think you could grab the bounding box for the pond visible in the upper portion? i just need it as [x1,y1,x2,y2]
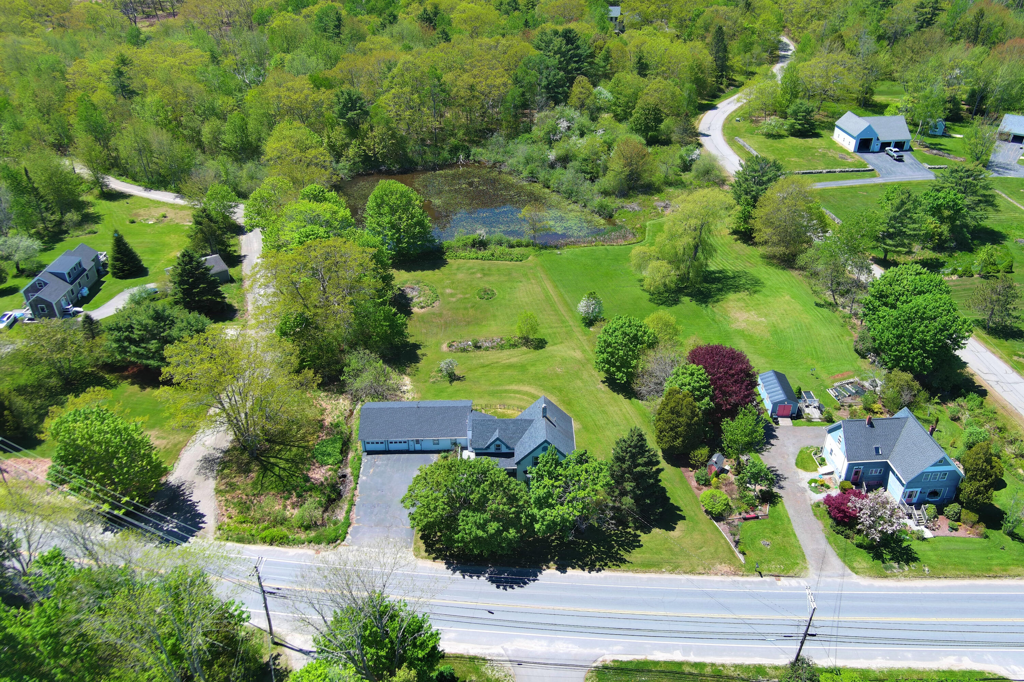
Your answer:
[328,164,609,258]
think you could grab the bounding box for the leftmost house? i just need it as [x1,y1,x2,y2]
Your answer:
[18,240,112,318]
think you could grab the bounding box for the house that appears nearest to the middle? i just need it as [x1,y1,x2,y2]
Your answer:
[359,393,576,485]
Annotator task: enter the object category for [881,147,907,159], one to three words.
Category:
vehicle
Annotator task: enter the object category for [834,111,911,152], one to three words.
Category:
building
